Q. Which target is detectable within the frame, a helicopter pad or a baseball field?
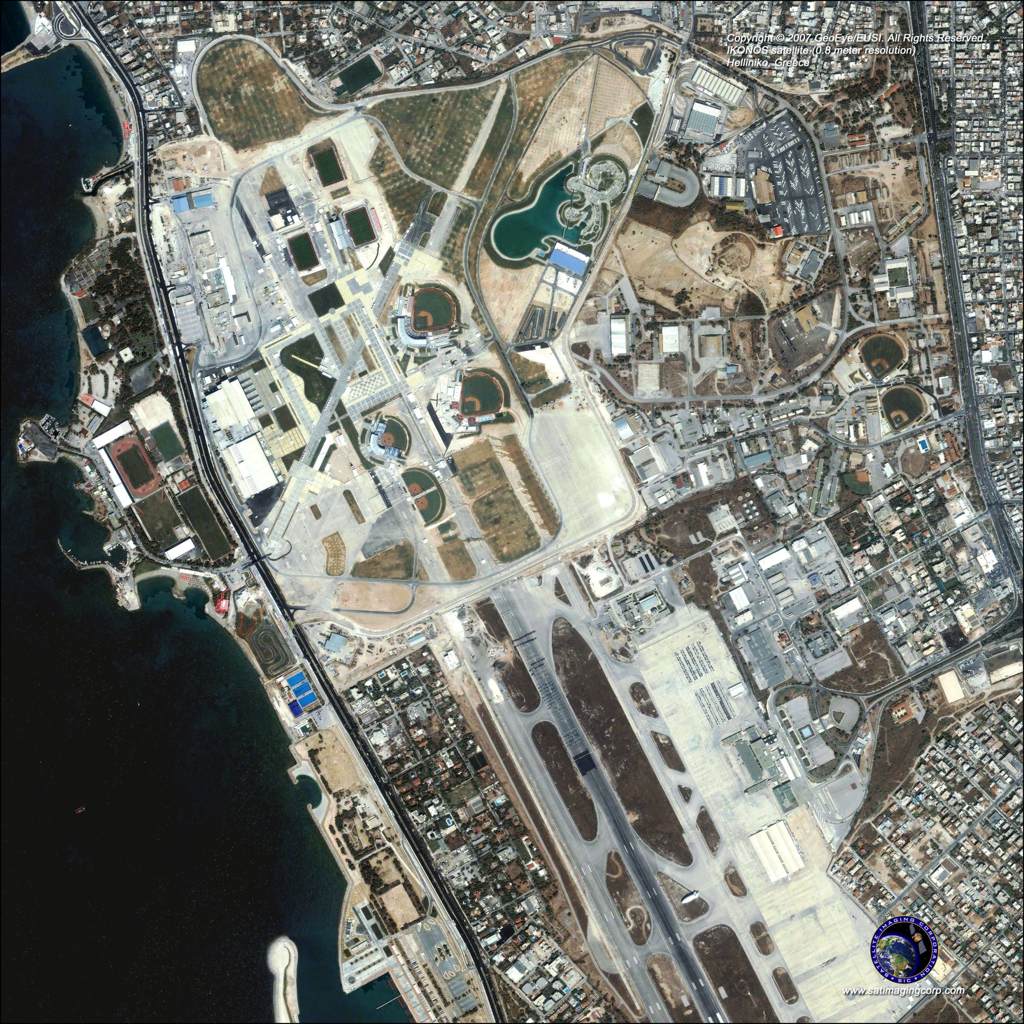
baseball field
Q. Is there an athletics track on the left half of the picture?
Yes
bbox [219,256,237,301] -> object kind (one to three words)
building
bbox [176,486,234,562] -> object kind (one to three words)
soccer field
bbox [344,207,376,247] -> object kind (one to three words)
sports field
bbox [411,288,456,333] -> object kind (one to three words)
baseball field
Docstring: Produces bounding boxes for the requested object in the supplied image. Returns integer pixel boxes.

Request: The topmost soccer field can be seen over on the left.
[329,53,384,99]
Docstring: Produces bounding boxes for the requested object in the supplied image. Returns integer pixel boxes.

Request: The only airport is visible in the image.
[493,588,727,1024]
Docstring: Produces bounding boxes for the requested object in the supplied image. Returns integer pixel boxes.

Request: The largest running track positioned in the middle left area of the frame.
[109,437,160,496]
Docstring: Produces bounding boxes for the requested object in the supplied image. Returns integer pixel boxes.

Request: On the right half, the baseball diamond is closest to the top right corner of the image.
[859,333,907,381]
